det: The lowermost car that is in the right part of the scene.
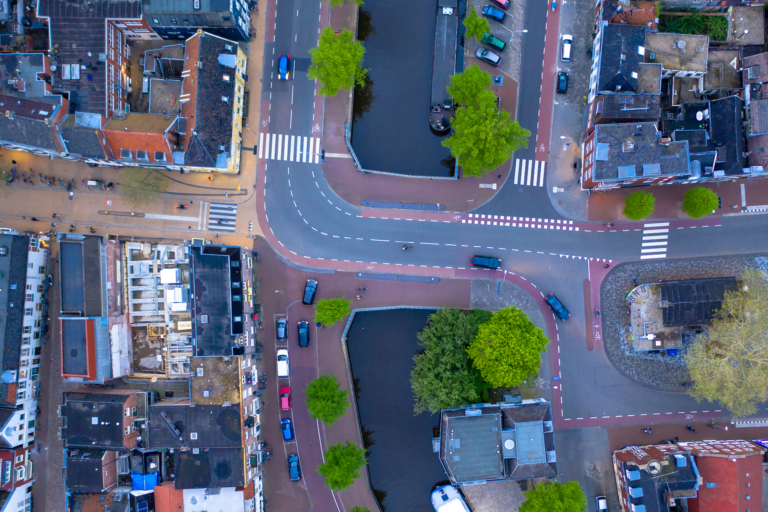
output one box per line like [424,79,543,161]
[595,495,609,512]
